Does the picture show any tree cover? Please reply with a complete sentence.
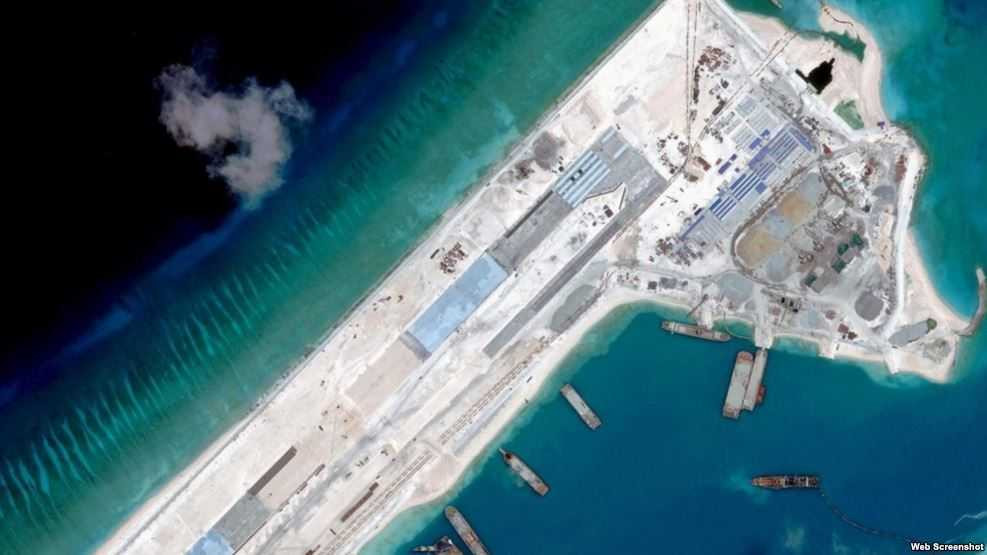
No, no tree cover is visible.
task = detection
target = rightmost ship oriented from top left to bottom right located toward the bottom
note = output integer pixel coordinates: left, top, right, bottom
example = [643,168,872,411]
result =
[560,384,601,429]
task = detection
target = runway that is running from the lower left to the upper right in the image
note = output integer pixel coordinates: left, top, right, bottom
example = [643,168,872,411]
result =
[183,149,617,555]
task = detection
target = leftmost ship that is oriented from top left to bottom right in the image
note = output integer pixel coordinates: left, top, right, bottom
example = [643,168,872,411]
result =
[447,507,488,555]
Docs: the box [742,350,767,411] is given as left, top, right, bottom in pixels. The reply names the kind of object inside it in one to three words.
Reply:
ship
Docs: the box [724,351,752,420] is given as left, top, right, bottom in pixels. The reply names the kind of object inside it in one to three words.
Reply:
ship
